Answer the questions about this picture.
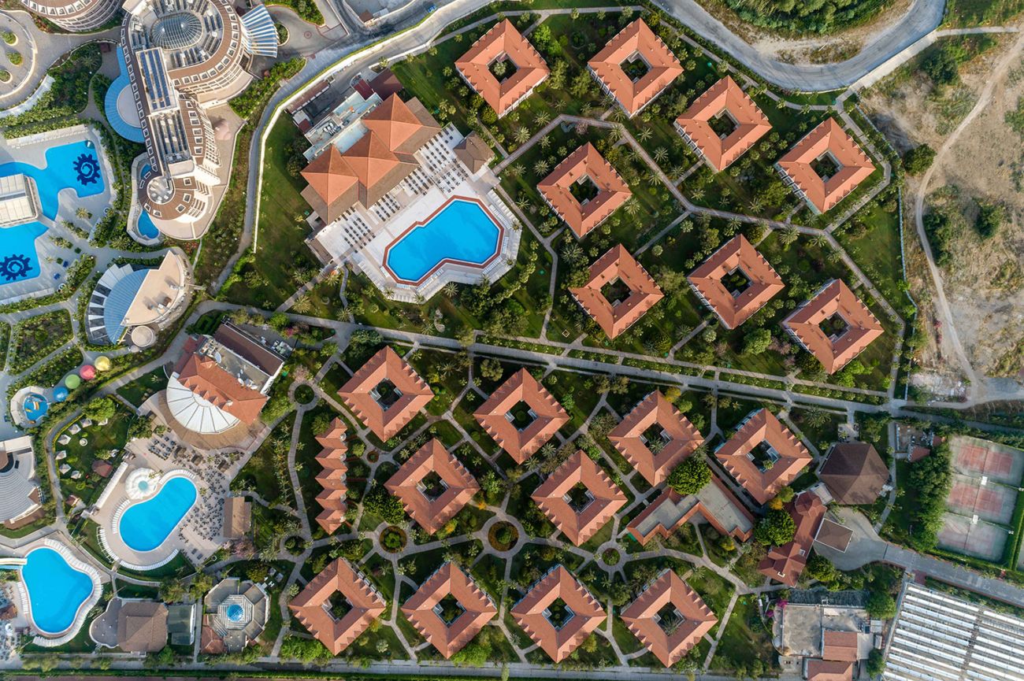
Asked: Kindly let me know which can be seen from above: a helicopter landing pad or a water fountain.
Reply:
water fountain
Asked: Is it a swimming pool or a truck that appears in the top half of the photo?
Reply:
swimming pool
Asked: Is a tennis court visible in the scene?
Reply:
Yes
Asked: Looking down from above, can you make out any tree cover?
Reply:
Yes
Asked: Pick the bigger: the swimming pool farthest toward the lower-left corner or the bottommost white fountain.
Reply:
the swimming pool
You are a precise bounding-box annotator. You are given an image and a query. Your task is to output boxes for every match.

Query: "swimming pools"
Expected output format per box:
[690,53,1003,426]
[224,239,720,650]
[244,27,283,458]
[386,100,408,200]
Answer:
[21,547,95,634]
[137,208,160,240]
[0,221,50,286]
[0,138,106,222]
[22,392,50,421]
[119,476,199,553]
[384,196,504,285]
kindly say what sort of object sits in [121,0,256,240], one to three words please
building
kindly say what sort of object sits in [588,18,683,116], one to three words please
house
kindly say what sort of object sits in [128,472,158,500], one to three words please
fountain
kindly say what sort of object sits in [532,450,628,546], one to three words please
house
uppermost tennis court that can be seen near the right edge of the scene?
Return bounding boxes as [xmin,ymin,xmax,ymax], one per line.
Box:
[946,437,1024,489]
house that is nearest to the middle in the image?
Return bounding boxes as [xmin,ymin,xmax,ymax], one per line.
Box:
[474,368,569,464]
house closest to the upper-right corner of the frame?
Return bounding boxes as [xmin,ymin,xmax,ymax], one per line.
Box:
[775,118,874,214]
